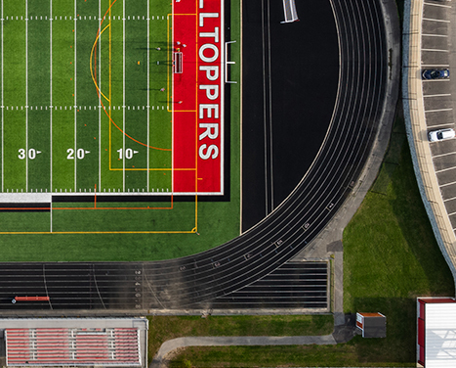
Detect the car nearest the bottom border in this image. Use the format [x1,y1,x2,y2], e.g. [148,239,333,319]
[428,128,456,142]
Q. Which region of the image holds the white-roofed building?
bottom right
